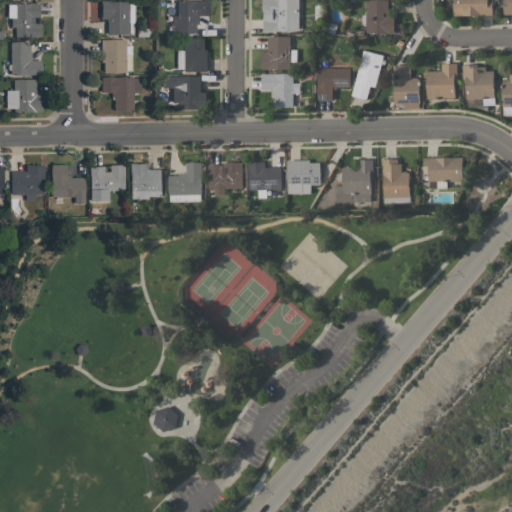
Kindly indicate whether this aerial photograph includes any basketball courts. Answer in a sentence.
Yes, the photo shows a basketball court.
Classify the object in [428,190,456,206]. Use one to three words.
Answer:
swimming pool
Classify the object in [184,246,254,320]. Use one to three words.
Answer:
tennis court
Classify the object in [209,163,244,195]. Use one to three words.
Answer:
house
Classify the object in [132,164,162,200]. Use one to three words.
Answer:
house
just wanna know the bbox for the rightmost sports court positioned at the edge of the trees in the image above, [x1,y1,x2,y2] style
[282,232,348,298]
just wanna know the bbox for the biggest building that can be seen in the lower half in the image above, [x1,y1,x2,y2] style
[153,406,178,433]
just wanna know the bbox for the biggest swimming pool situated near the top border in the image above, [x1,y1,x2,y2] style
[332,10,347,24]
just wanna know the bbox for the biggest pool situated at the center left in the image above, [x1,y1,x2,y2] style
[10,197,28,220]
